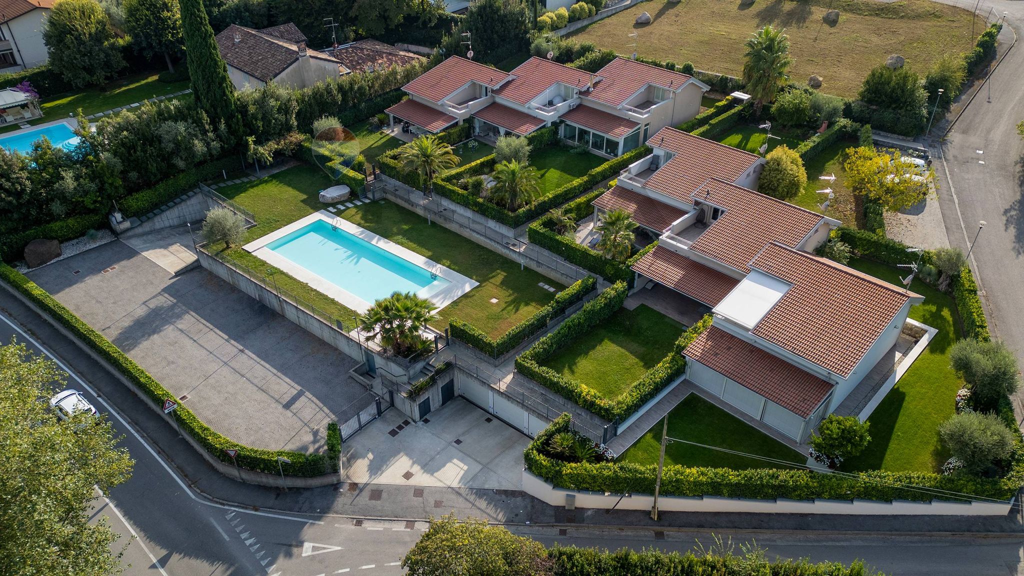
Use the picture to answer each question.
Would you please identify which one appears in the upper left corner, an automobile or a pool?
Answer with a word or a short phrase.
pool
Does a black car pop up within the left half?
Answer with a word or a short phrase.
No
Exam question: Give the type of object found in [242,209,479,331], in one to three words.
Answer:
swimming pool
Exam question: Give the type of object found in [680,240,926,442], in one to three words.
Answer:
house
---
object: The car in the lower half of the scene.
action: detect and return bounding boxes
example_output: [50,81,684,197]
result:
[55,393,100,430]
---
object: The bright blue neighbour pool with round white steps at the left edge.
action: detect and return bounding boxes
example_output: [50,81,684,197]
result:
[0,117,96,161]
